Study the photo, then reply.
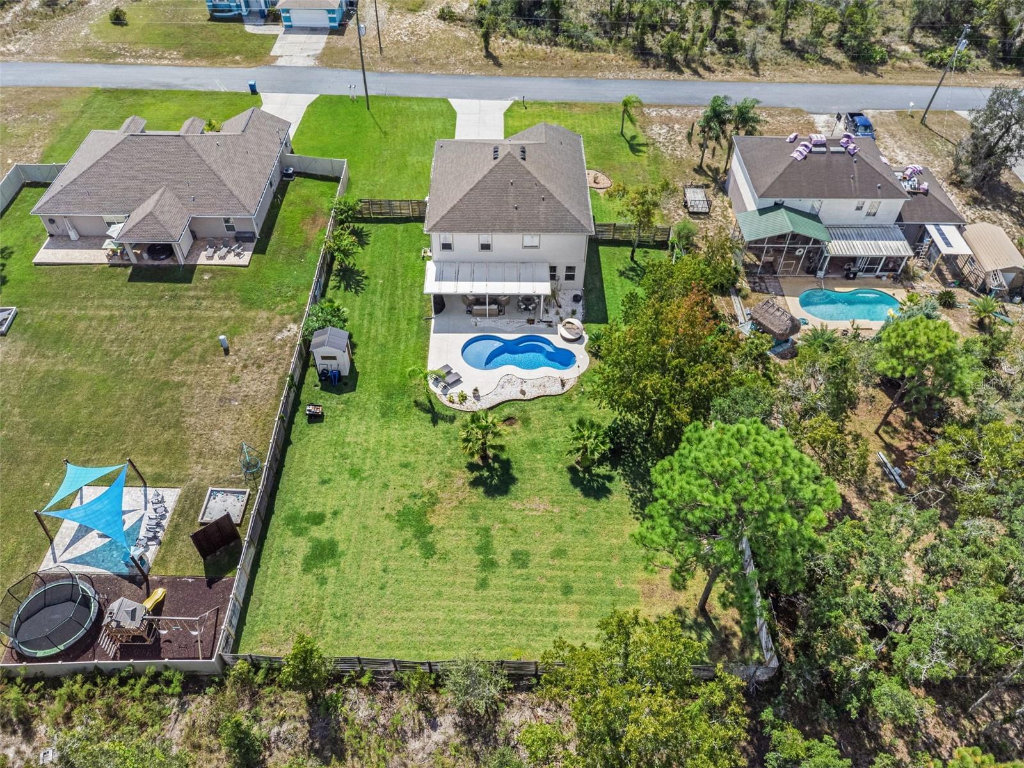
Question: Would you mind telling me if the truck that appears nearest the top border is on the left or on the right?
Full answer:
The truck that appears nearest the top border sits on the right side.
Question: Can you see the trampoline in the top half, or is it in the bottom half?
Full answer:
The bottom half of the photo is where the trampoline is.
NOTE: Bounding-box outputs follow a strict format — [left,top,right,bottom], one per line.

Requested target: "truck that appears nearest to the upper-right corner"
[850,107,884,142]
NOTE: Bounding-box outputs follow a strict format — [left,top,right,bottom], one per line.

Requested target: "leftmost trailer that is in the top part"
[682,171,717,207]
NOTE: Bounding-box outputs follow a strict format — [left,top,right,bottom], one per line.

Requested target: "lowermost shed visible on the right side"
[744,306,804,368]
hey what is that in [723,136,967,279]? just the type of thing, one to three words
house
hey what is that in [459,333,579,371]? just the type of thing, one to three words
swimming pool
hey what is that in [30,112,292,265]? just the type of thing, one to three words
house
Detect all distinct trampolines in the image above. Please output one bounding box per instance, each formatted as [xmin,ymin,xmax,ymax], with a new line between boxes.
[0,559,106,658]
